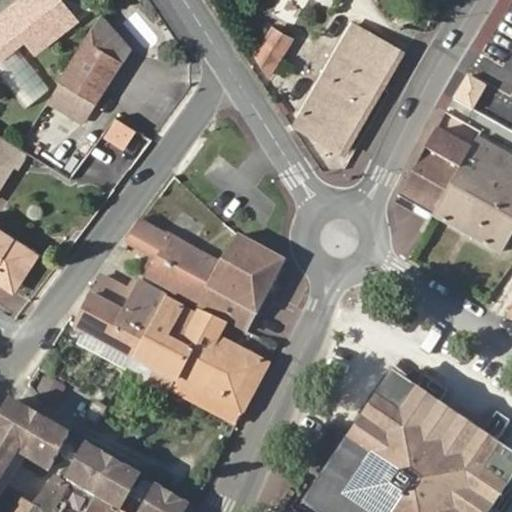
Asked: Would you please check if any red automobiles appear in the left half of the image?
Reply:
No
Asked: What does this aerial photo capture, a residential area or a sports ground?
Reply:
residential area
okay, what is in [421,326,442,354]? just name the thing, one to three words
vehicle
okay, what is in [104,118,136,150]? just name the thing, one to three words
shed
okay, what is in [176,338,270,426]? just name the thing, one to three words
house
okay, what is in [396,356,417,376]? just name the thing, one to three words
car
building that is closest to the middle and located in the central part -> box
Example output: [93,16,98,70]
[206,233,286,312]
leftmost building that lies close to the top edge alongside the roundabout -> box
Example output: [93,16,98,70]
[293,21,406,170]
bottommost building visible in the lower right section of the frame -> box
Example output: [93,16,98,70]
[302,369,512,512]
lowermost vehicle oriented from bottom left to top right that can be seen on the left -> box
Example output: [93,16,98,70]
[42,327,58,349]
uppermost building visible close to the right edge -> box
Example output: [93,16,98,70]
[454,73,486,108]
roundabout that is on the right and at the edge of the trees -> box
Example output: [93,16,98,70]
[290,190,390,289]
